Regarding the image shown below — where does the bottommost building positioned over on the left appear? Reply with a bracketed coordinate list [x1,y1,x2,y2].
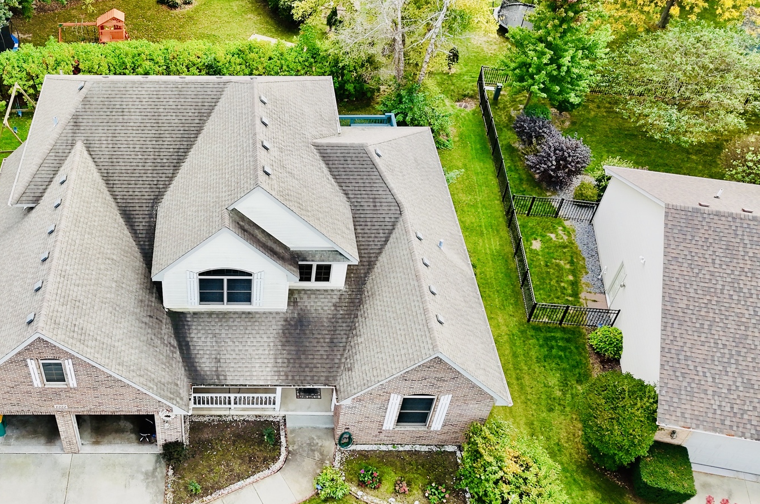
[0,58,516,456]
